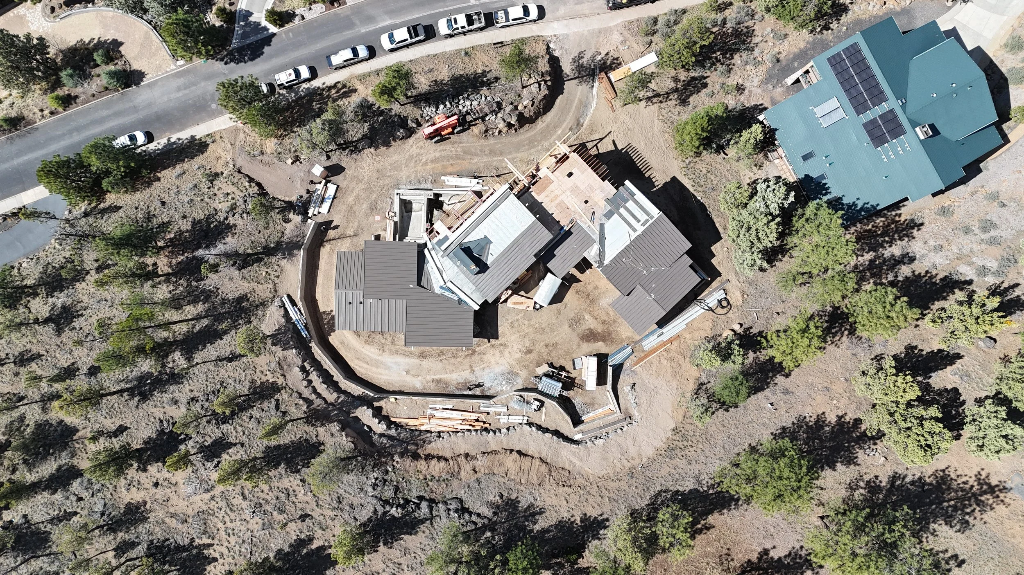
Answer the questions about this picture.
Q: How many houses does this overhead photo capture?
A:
2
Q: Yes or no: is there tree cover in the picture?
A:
Yes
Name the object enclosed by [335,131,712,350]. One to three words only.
house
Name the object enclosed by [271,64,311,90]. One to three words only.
car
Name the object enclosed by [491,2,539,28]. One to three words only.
truck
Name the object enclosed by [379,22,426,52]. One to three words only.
truck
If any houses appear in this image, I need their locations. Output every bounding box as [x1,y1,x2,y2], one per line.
[763,15,1003,222]
[335,131,712,350]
